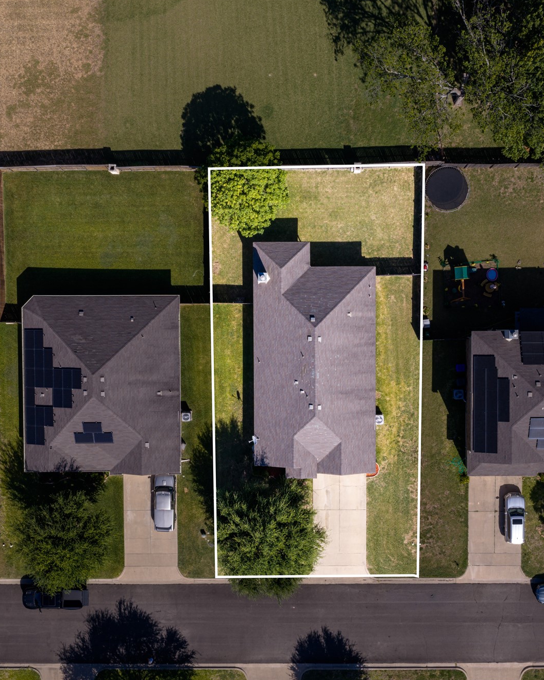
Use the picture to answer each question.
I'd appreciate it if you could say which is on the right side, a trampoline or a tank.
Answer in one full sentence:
The feature located on the right side is a trampoline.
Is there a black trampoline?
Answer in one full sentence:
Yes, this view includes a black trampoline.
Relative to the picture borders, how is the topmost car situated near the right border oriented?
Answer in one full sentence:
From this overhead view, the topmost car situated near the right border appears to run vertically.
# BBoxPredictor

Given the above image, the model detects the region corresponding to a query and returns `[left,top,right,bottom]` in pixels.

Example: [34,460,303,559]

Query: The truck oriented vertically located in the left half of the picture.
[153,475,177,533]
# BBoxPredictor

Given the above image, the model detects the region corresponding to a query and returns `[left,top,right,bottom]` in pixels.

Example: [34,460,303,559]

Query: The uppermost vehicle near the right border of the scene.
[501,490,527,541]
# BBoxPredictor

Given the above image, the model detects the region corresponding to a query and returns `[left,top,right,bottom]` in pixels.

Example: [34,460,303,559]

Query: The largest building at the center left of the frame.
[22,294,182,476]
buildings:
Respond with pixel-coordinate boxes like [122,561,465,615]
[250,241,376,479]
[464,308,544,476]
[22,294,182,476]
